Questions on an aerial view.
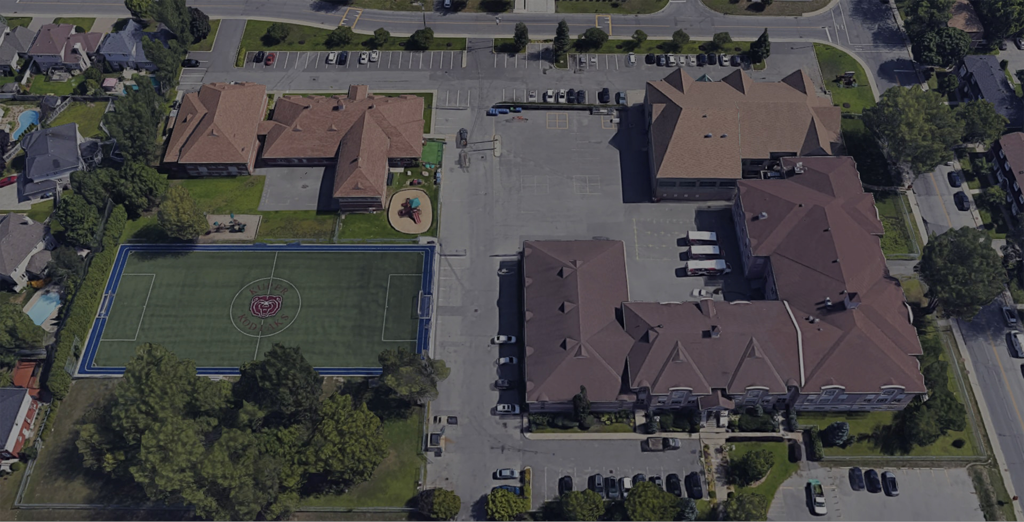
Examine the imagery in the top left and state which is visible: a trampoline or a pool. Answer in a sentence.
You can see a pool in the top left.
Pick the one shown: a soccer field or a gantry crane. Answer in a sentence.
Visible in the photo is a soccer field.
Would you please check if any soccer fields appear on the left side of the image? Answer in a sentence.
Yes, a soccer field is visible on the left side of the image.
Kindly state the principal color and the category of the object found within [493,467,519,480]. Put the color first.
gray vehicle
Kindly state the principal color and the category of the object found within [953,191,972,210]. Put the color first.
black car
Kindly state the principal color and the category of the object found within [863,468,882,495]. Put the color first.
black car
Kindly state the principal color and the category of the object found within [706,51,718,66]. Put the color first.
black vehicle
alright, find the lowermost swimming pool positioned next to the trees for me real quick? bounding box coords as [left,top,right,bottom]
[28,291,61,324]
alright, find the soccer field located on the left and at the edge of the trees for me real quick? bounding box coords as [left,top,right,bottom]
[92,251,424,367]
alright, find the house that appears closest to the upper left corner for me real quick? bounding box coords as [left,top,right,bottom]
[0,23,36,76]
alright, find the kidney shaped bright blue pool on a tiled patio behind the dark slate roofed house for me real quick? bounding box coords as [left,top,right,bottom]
[12,109,40,140]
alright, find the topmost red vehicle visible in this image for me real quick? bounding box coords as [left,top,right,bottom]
[264,51,277,66]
